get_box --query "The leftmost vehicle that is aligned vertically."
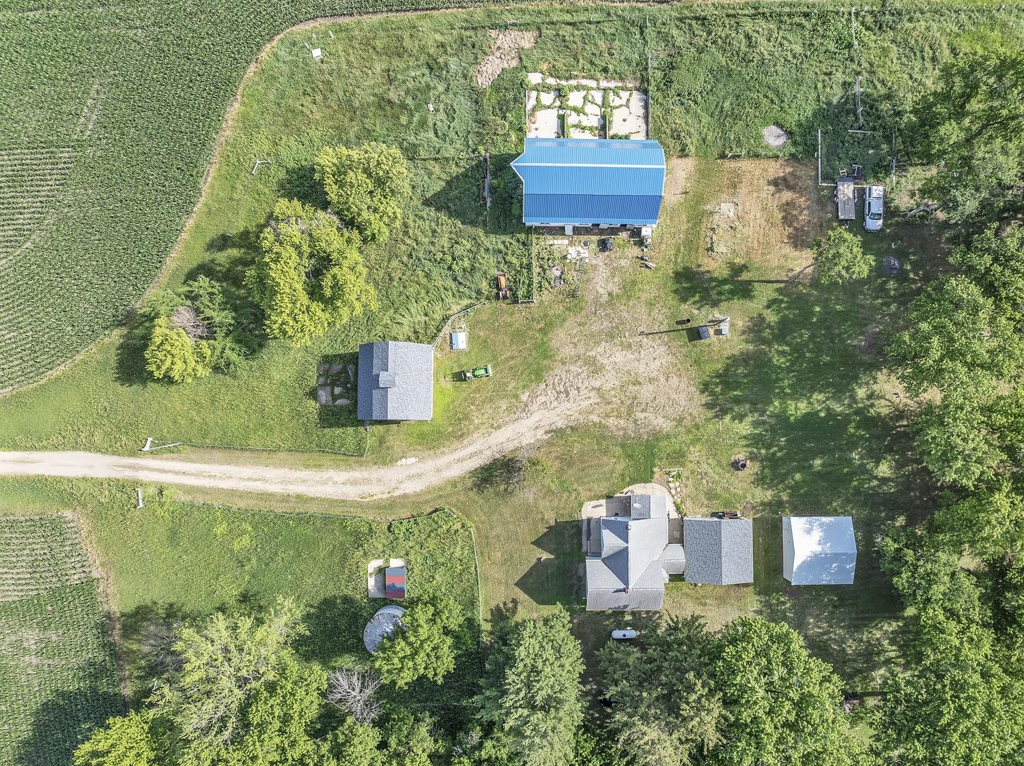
[496,270,510,300]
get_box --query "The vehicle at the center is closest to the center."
[467,366,493,380]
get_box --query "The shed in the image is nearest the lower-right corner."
[784,515,859,586]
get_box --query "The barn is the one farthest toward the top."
[508,137,667,229]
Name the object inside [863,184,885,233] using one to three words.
truck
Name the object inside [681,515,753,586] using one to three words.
building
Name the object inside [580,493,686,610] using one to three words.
house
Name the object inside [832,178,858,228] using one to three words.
trailer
